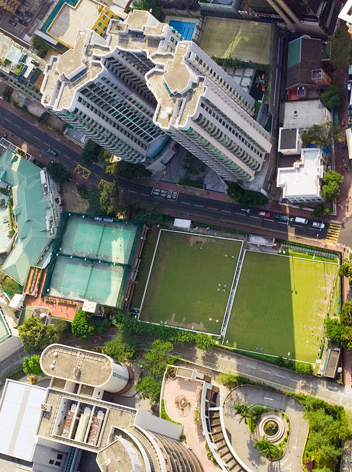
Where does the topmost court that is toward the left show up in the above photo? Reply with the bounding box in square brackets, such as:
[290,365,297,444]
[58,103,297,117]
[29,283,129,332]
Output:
[54,213,137,266]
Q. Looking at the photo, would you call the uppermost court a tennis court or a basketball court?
tennis court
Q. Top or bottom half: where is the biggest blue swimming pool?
top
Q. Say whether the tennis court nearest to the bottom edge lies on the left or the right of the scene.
left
